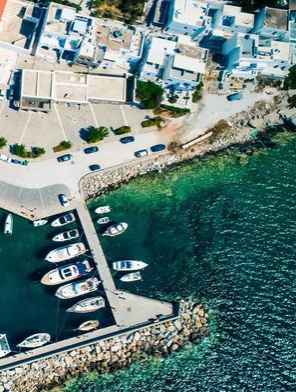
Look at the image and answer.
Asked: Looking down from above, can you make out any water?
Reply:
Yes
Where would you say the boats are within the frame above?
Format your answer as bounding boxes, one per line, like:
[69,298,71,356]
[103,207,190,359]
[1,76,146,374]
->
[103,222,128,236]
[44,241,89,262]
[73,321,99,331]
[50,213,77,227]
[32,220,48,226]
[52,229,80,242]
[16,334,56,351]
[56,279,103,298]
[96,217,110,224]
[111,260,148,276]
[62,296,110,336]
[0,336,10,355]
[95,206,111,214]
[3,214,12,236]
[117,273,142,288]
[41,260,91,284]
